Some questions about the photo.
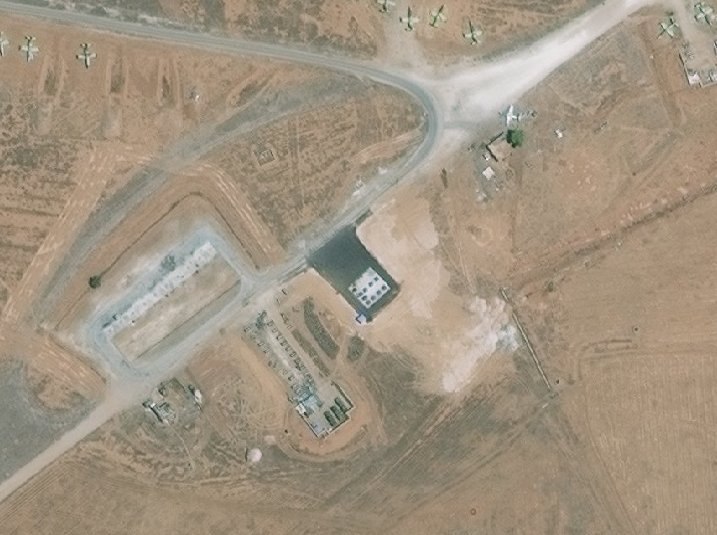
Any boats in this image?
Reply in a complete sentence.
No, the scene contains no boat.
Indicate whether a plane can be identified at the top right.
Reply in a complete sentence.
Yes, at the top right there is a plane.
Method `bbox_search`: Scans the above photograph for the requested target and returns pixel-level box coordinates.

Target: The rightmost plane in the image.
[695,2,716,25]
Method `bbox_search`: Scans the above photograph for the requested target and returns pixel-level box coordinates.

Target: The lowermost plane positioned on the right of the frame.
[499,105,522,125]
